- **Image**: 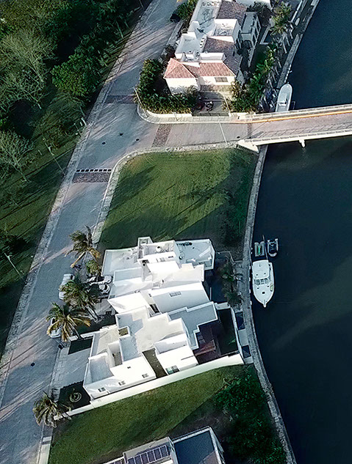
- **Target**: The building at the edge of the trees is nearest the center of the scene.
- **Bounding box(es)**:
[103,237,222,316]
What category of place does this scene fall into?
residential area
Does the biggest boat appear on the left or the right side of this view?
right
